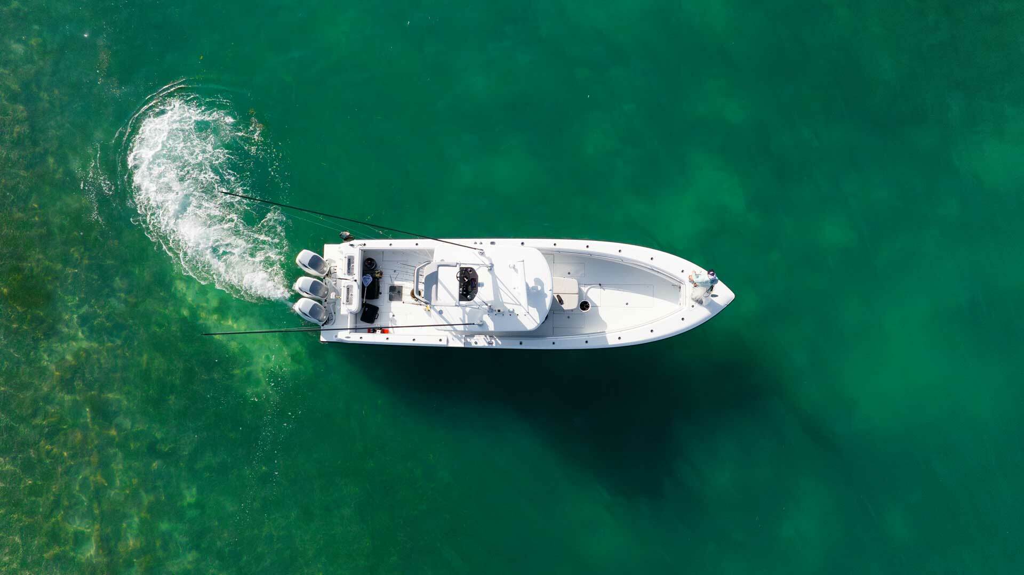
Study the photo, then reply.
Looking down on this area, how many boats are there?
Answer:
1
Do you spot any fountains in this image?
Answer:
No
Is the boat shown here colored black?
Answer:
No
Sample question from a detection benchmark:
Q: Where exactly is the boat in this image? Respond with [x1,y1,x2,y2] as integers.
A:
[202,191,735,349]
